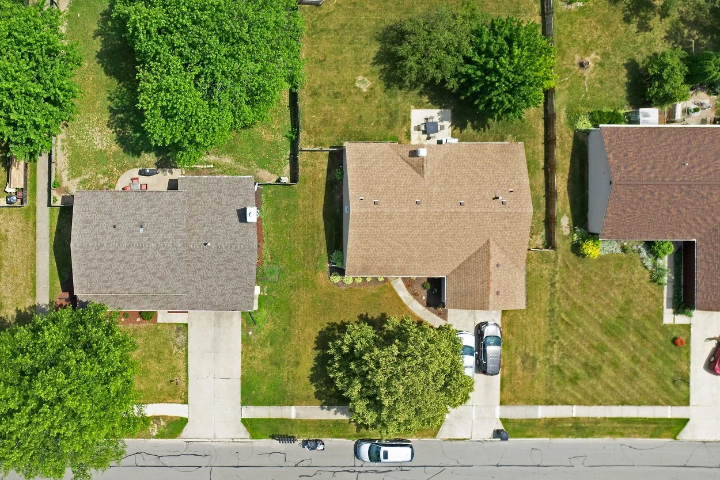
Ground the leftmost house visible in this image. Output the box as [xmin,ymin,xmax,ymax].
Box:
[70,175,260,311]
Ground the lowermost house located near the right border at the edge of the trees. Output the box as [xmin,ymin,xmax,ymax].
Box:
[589,124,720,311]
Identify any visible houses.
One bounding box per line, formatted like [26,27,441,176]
[343,142,533,311]
[589,124,720,311]
[70,175,260,311]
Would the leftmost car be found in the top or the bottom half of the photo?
bottom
